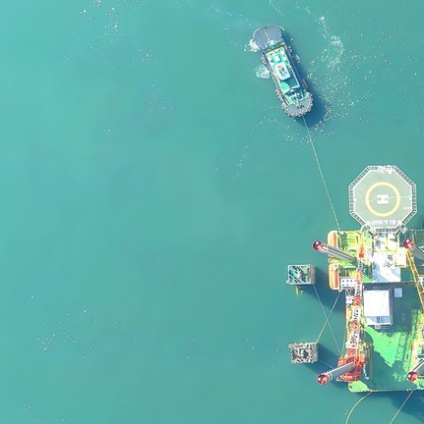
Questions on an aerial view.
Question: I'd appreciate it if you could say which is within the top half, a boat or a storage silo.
boat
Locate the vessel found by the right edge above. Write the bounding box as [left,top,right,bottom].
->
[315,163,424,394]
